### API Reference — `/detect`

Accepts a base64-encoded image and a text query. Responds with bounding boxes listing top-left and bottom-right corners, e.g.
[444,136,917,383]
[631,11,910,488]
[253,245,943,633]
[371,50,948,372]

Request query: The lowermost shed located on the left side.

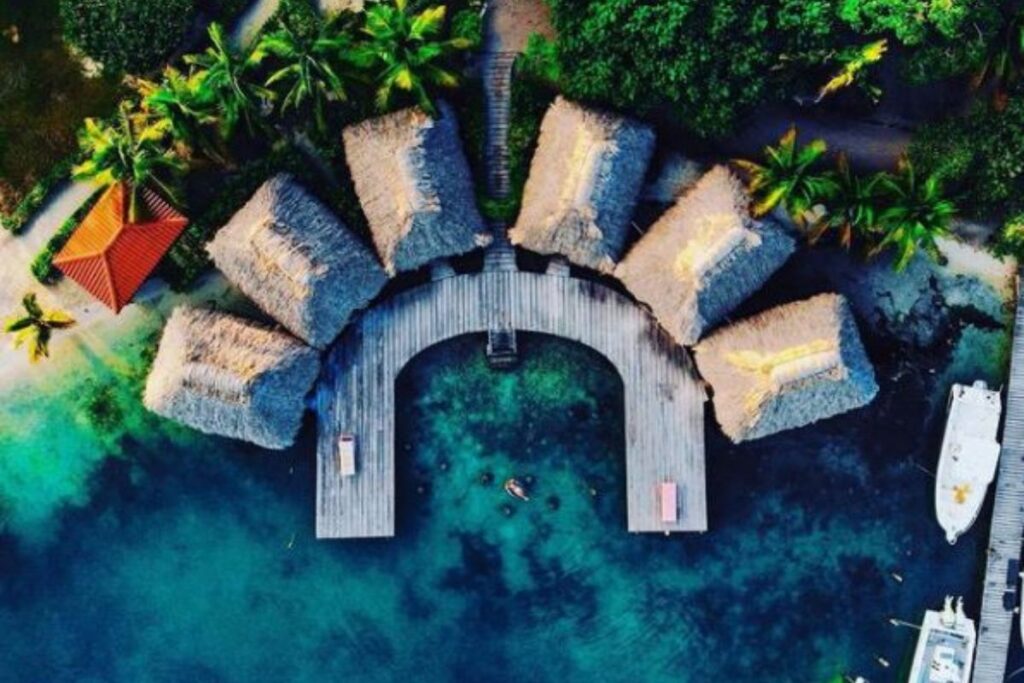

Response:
[145,307,320,449]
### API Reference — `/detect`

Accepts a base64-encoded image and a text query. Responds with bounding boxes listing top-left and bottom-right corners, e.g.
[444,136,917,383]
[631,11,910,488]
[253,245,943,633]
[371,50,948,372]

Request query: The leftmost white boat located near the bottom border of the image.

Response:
[904,594,973,683]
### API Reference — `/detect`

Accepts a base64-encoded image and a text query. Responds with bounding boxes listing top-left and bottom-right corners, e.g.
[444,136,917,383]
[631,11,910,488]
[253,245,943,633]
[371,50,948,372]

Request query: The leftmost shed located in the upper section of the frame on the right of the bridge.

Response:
[509,97,657,275]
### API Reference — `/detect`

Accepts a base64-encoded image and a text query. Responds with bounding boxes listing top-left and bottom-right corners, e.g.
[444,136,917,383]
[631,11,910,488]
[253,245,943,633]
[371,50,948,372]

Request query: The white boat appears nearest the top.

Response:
[933,380,1006,546]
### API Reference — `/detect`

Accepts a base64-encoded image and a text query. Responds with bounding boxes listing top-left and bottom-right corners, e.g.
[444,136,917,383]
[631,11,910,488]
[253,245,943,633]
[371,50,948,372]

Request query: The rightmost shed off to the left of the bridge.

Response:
[343,100,492,276]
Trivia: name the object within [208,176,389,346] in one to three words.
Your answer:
shed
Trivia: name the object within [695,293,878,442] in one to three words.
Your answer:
shed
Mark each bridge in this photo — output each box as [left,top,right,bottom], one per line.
[482,216,518,271]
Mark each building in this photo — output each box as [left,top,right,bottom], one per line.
[509,97,657,275]
[695,293,878,442]
[617,167,794,343]
[343,100,492,276]
[208,176,389,346]
[51,183,189,313]
[145,307,320,449]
